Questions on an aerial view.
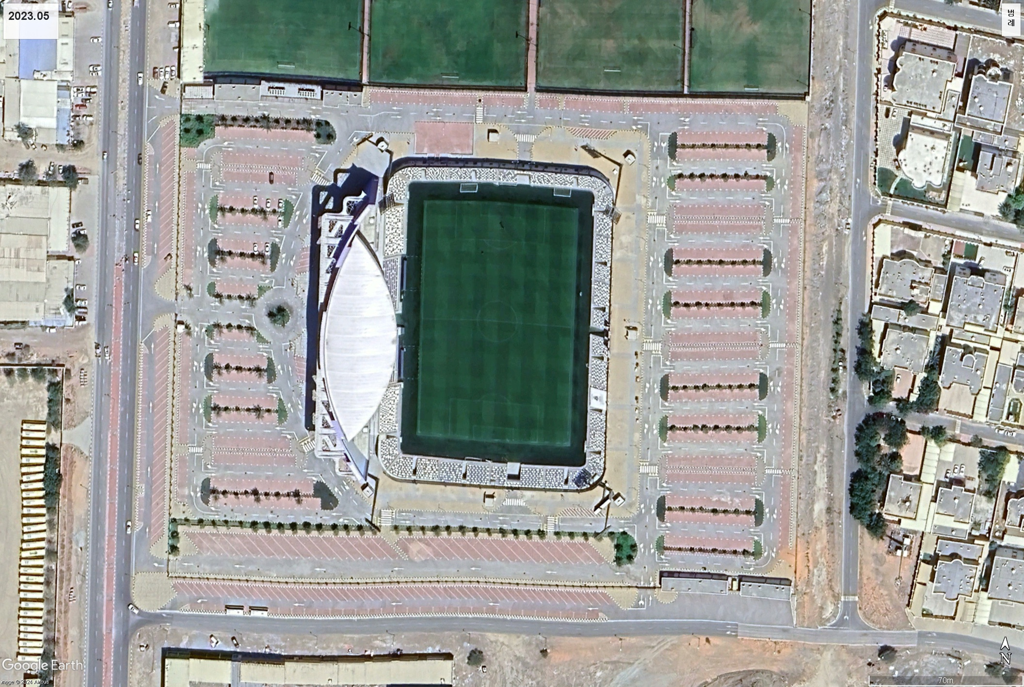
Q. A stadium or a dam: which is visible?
stadium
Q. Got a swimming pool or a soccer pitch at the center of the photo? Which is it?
soccer pitch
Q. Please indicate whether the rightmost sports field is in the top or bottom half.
top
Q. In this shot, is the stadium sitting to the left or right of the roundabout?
to the right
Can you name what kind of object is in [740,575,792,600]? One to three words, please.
building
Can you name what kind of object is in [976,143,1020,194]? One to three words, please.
house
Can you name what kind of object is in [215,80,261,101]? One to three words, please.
building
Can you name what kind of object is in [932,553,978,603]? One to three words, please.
house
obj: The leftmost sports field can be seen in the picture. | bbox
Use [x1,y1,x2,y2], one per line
[204,0,364,86]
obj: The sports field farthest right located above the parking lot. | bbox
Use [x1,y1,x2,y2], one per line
[689,0,810,98]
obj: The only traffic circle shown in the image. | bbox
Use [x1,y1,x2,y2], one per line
[257,292,303,336]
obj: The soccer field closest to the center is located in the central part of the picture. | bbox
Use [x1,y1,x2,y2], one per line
[405,184,591,467]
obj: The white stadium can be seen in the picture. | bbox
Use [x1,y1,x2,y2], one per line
[311,158,615,491]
